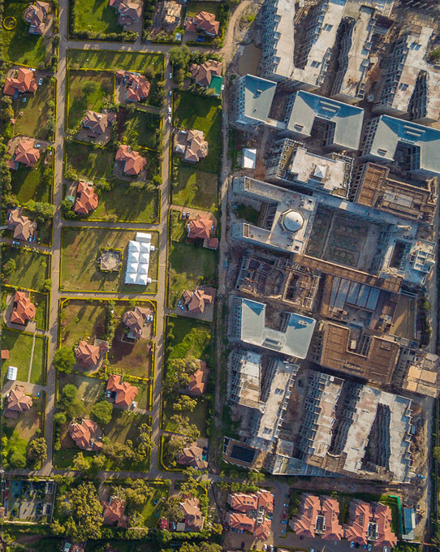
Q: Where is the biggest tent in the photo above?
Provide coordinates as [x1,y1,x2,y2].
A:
[125,242,149,285]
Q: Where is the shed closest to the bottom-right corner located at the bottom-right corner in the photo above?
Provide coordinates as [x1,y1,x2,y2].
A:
[398,508,416,541]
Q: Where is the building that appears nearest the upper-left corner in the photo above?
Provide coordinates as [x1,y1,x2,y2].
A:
[22,0,53,39]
